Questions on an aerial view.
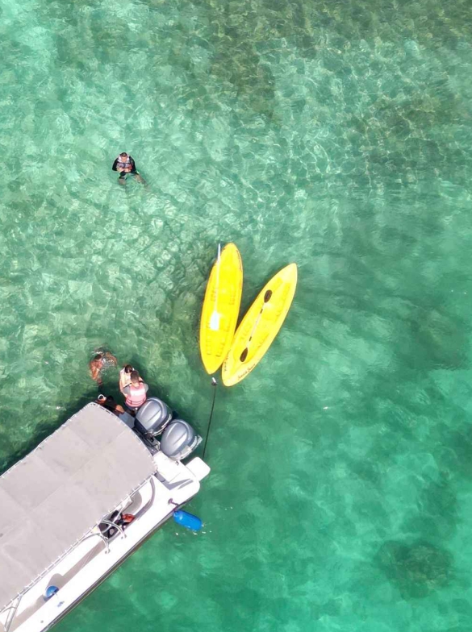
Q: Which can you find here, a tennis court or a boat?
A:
boat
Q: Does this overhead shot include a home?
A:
No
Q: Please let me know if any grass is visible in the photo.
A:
No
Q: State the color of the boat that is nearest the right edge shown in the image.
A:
yellow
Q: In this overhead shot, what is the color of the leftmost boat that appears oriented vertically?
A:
yellow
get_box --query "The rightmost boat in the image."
[225,261,300,387]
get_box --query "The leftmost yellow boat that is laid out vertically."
[200,241,245,374]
